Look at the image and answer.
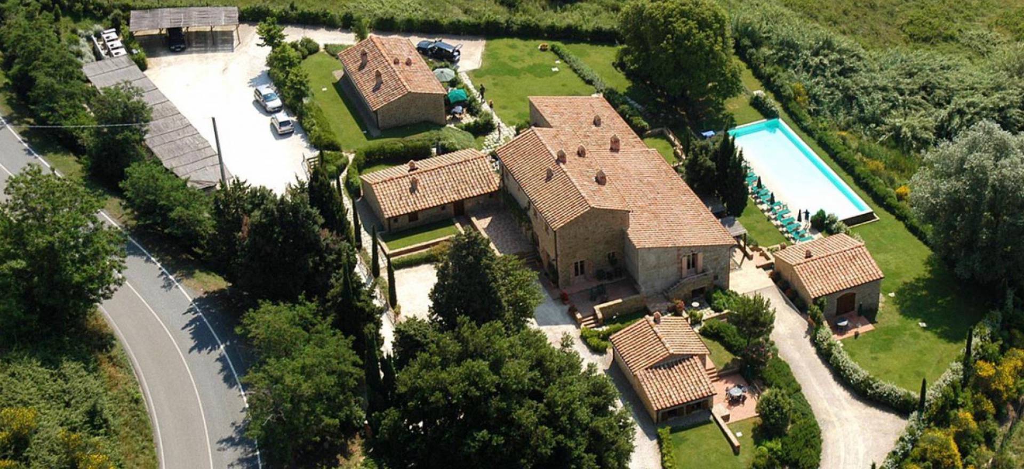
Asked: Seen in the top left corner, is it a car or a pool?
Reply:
car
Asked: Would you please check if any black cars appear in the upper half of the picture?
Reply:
Yes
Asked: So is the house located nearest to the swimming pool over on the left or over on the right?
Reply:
right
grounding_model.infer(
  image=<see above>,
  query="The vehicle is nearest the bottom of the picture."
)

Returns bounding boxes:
[271,112,293,131]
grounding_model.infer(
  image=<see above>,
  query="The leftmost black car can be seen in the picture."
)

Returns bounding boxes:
[168,28,184,49]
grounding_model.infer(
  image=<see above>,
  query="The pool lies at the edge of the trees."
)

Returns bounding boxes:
[730,116,880,234]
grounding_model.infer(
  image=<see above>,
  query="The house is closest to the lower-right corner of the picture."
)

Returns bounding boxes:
[771,233,883,322]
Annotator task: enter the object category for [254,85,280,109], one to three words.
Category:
car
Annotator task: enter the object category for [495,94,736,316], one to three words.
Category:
house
